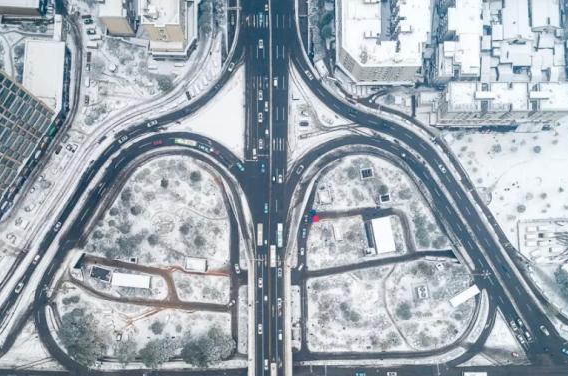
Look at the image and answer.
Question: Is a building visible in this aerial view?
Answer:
Yes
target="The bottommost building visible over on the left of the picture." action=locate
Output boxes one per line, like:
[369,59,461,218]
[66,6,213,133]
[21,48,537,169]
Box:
[112,272,152,288]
